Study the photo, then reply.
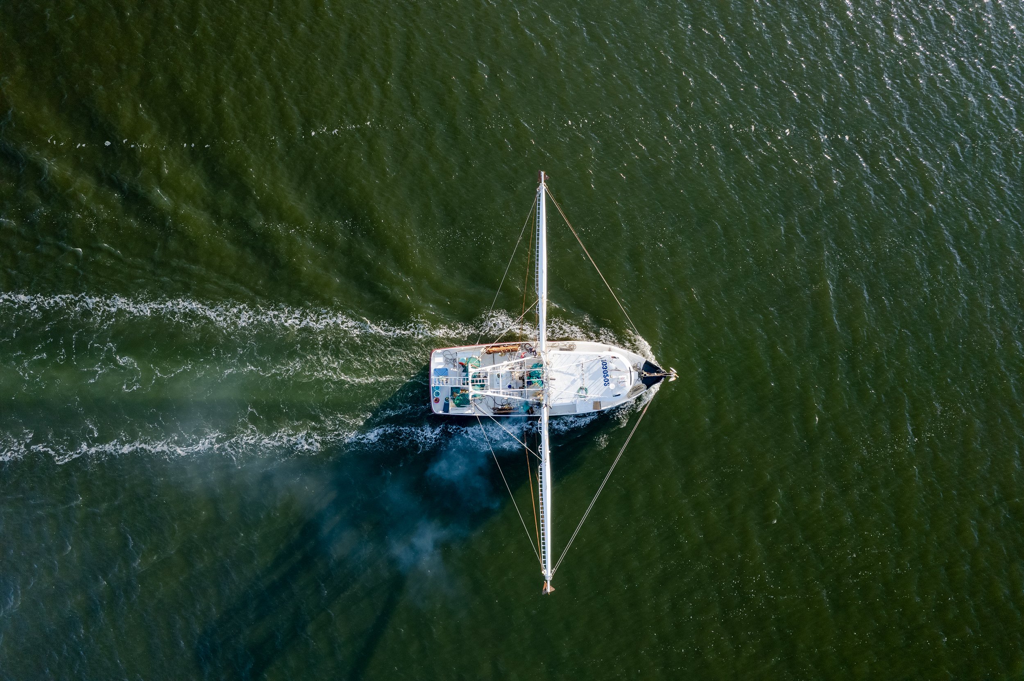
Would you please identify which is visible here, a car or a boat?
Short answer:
boat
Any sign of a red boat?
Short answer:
No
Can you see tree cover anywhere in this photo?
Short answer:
No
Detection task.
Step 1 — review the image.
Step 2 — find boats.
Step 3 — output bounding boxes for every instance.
[428,171,673,592]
